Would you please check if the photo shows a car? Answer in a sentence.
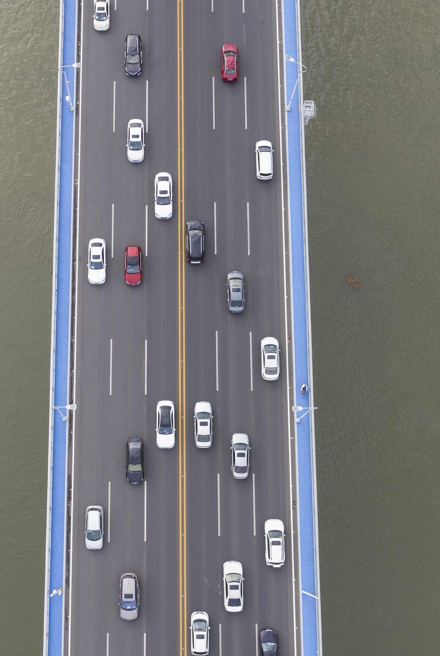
Yes, this view includes a car.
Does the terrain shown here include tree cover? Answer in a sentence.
No, no tree cover is visible.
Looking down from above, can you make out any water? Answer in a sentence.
Yes, there's water in this view.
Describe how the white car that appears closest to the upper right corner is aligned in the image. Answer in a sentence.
In this picture, the white car that appears closest to the upper right corner is oriented up and down.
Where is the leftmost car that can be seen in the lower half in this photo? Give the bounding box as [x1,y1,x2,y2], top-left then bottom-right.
[83,506,104,550]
